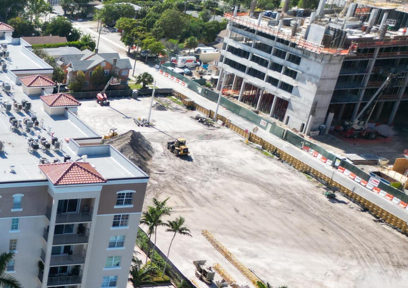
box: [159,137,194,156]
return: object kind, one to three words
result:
work vehicle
